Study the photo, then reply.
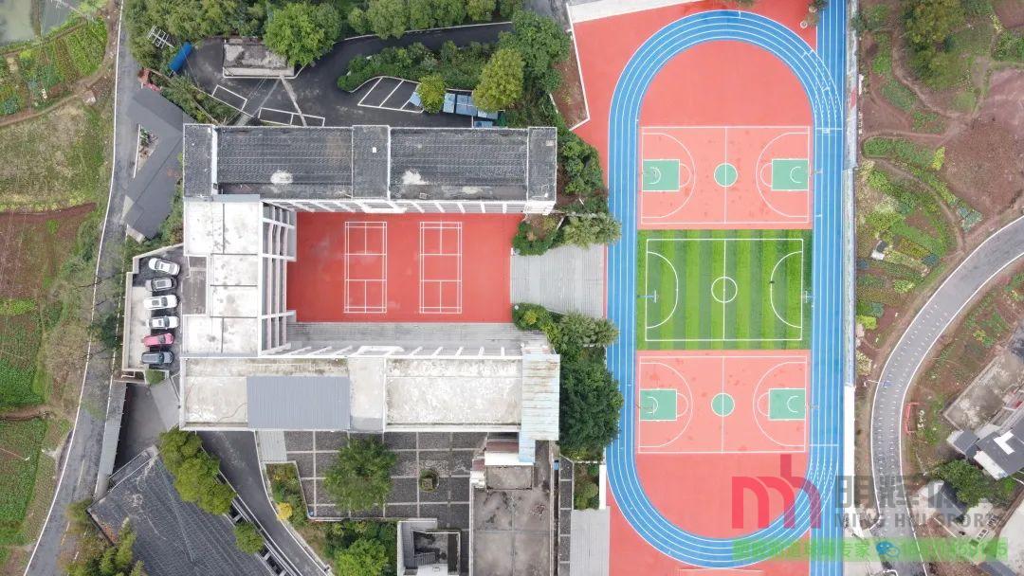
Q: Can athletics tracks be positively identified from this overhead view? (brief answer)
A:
Yes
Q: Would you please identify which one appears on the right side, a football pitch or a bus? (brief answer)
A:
football pitch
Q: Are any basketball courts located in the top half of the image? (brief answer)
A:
Yes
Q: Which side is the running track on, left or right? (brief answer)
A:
right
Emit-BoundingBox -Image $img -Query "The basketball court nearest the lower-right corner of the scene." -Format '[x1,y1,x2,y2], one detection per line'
[635,350,811,454]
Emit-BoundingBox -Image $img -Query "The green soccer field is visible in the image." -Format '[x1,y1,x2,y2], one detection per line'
[636,230,812,350]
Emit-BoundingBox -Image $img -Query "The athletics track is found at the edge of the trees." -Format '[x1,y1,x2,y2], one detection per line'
[605,10,843,569]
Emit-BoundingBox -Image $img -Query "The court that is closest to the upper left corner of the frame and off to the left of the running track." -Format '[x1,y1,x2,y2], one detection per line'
[345,222,387,313]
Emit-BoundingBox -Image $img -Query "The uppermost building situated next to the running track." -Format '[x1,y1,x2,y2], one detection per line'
[183,124,556,215]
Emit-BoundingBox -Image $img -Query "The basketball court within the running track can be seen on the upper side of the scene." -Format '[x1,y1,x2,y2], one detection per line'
[637,125,813,230]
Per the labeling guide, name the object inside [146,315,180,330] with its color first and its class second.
white car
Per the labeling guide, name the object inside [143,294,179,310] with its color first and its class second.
white car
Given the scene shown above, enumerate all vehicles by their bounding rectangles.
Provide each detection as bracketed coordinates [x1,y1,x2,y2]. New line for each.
[143,294,179,310]
[141,350,175,366]
[146,277,178,292]
[142,332,175,348]
[146,315,180,330]
[148,258,182,276]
